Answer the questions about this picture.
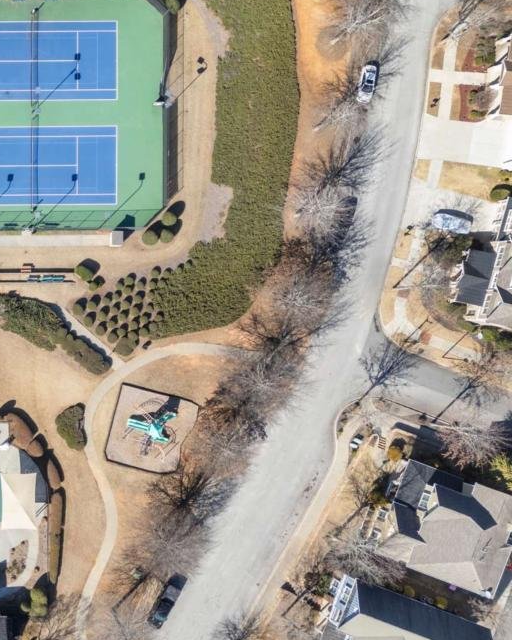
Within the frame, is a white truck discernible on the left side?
No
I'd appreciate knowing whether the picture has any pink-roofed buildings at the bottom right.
No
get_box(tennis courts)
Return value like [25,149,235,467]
[0,113,164,230]
[0,0,164,114]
